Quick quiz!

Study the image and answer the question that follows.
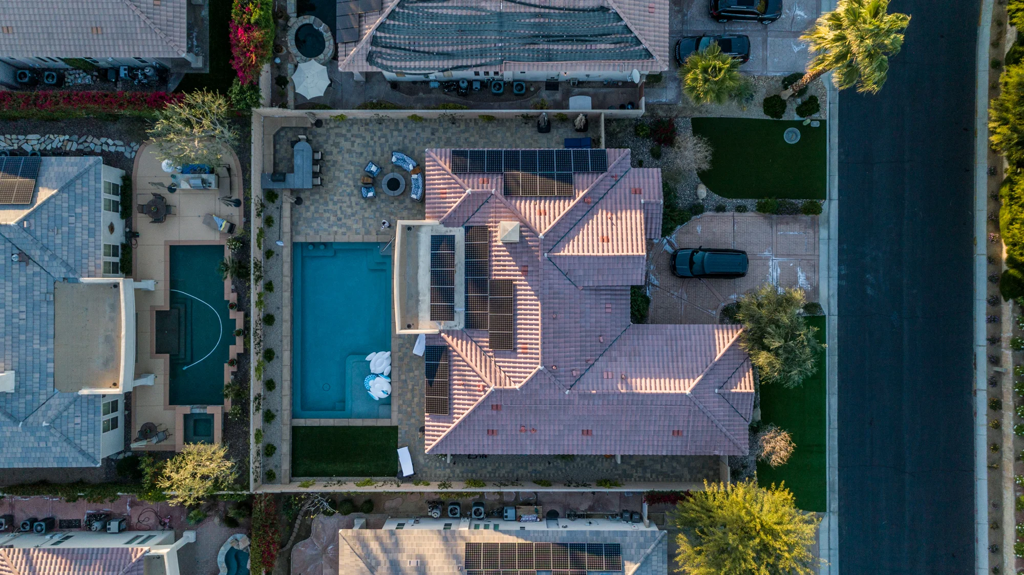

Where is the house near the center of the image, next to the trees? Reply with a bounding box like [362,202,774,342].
[395,147,755,473]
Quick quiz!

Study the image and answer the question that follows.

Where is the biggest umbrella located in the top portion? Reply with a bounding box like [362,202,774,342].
[294,61,331,97]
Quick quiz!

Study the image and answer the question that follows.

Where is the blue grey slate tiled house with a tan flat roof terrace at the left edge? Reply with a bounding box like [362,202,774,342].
[0,155,154,469]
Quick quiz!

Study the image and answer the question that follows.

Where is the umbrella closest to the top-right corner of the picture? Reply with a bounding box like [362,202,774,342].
[574,114,588,133]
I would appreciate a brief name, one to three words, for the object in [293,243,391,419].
swimming pool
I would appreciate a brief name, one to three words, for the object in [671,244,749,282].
car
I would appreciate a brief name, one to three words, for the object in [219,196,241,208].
umbrella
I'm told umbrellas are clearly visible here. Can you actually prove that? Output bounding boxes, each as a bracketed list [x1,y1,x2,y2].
[294,61,331,97]
[219,196,241,208]
[574,114,588,133]
[537,113,551,133]
[306,113,324,128]
[285,194,304,205]
[131,436,158,447]
[149,182,176,192]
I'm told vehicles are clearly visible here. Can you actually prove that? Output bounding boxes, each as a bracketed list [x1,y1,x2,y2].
[671,244,749,282]
[674,29,750,68]
[712,0,787,23]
